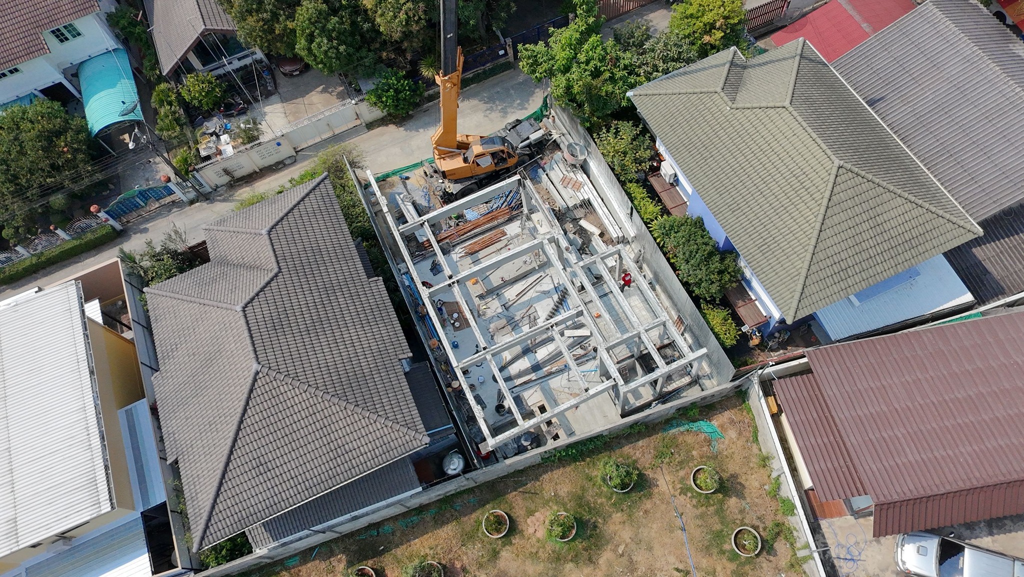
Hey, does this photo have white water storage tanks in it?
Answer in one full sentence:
No, there appears to be no white water storage tank in this shot.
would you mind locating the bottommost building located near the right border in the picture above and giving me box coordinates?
[774,300,1024,538]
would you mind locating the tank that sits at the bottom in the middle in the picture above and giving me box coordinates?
[435,448,464,479]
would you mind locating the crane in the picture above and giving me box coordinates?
[428,0,563,214]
